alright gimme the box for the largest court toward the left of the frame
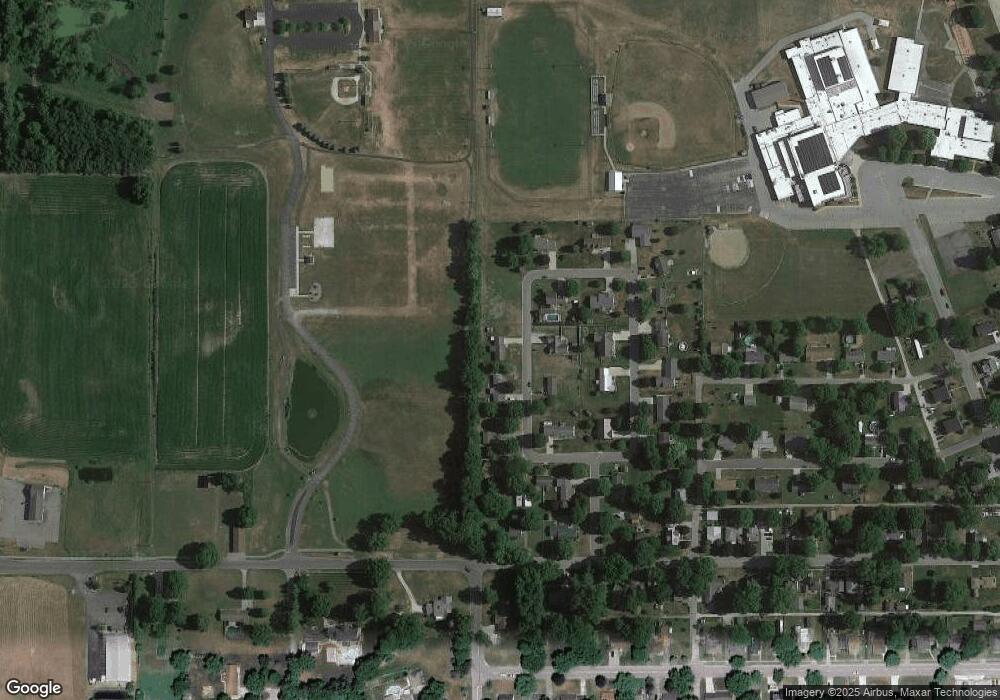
[313,218,334,248]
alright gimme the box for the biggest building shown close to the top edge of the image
[757,28,994,206]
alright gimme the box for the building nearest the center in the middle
[491,337,506,359]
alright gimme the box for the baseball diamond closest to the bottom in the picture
[704,228,790,306]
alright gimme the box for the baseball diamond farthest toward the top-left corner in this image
[277,69,362,143]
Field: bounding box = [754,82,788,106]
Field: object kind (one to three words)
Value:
shed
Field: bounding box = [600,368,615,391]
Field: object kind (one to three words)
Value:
house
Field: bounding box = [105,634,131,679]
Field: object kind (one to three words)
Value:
barn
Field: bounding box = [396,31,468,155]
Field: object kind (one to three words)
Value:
sports field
